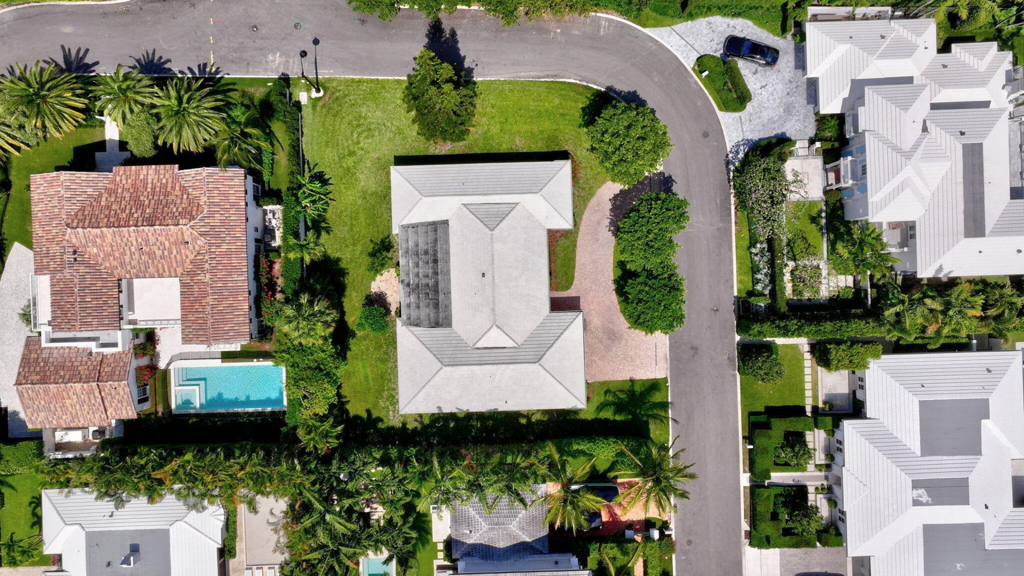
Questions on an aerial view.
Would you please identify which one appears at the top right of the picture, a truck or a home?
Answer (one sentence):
There is a home at the top right of the picture.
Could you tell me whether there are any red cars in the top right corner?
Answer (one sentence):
No, no red car can be made out in the top right corner.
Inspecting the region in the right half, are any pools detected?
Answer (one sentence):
No, I can find no pool in the right half.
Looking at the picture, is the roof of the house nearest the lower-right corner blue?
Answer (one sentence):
No, from above the roof of the house nearest the lower-right corner looks white.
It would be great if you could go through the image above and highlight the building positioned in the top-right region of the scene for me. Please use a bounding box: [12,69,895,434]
[804,19,1024,277]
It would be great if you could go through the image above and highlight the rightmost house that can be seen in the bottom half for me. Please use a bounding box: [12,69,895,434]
[833,351,1024,576]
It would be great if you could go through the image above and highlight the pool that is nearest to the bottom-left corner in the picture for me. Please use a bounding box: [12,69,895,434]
[170,359,287,414]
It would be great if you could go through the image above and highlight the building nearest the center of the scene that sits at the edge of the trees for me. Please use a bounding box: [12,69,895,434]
[390,160,587,414]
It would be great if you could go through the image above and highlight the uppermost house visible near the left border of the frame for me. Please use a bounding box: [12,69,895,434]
[30,164,267,352]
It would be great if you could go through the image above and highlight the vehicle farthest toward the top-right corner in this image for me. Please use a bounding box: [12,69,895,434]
[728,33,783,65]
